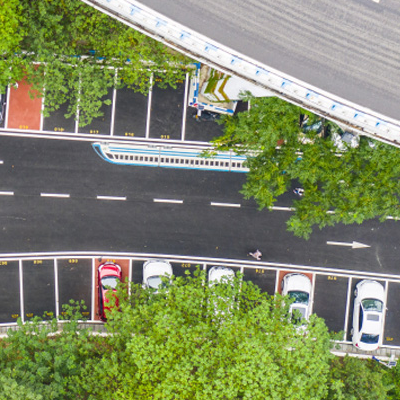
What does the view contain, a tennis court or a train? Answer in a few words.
train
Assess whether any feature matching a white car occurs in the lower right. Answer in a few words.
Yes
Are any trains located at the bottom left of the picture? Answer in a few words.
No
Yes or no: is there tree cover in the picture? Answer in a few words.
Yes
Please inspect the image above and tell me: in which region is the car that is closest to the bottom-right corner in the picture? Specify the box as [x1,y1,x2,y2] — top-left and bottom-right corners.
[351,279,390,350]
